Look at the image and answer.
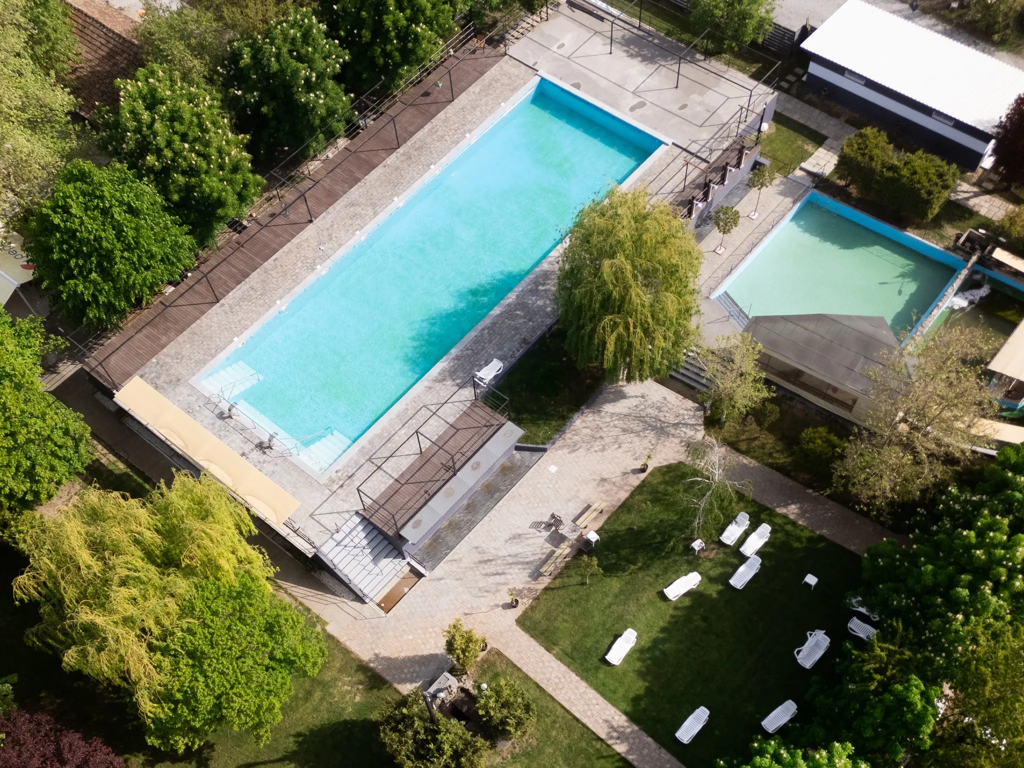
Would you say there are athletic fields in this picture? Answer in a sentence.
No, there appears to be no athletic field in this shot.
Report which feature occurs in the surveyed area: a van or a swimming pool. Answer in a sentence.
There is a swimming pool in the scene.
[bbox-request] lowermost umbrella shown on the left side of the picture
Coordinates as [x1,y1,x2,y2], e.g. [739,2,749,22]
[0,271,37,315]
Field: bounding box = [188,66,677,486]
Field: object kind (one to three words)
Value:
swimming pool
